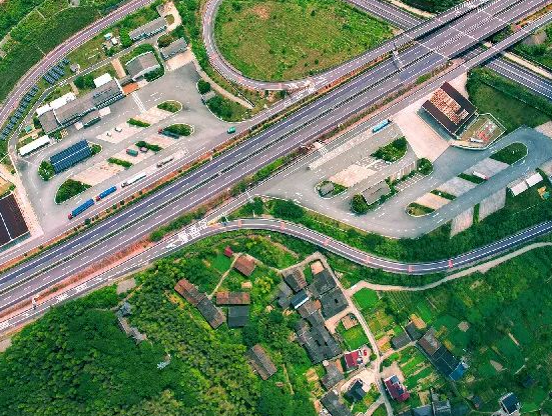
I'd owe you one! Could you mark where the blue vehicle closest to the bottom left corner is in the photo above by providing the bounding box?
[65,199,95,218]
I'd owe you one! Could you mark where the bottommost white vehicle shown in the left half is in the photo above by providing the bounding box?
[120,171,147,187]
